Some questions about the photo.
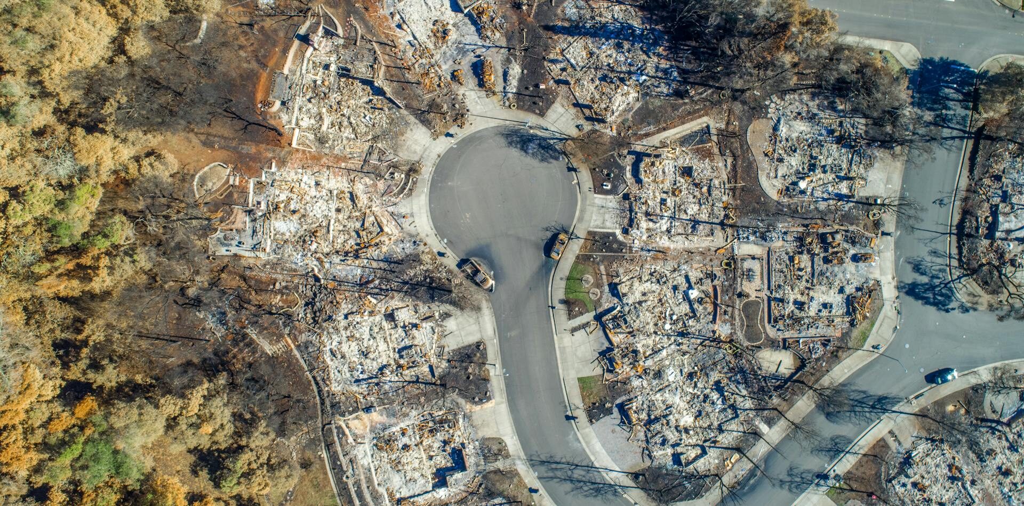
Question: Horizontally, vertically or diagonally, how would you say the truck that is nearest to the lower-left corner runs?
diagonally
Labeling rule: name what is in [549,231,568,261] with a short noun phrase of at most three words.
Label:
car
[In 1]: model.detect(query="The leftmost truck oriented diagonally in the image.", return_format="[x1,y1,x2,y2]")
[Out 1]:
[460,259,492,292]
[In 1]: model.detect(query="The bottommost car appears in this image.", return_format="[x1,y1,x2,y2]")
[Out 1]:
[933,368,963,386]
